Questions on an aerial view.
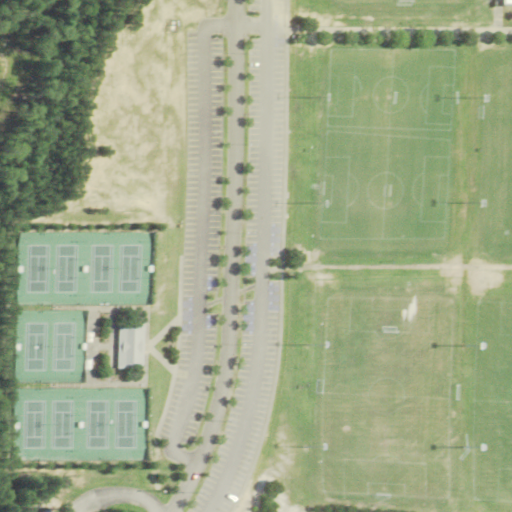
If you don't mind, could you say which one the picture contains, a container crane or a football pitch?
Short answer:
football pitch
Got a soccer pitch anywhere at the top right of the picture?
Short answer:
Yes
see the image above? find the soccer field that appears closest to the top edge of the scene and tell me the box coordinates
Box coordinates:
[328,48,456,132]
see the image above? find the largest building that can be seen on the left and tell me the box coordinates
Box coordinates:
[118,328,146,370]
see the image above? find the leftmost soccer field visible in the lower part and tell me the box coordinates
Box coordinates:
[323,296,455,499]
